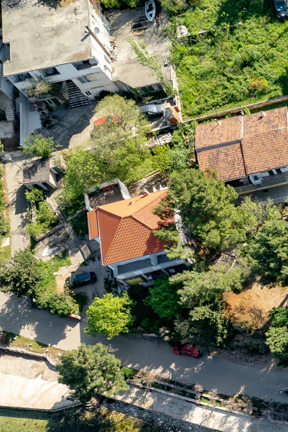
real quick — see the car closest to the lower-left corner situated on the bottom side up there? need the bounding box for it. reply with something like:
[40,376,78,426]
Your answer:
[65,271,98,290]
